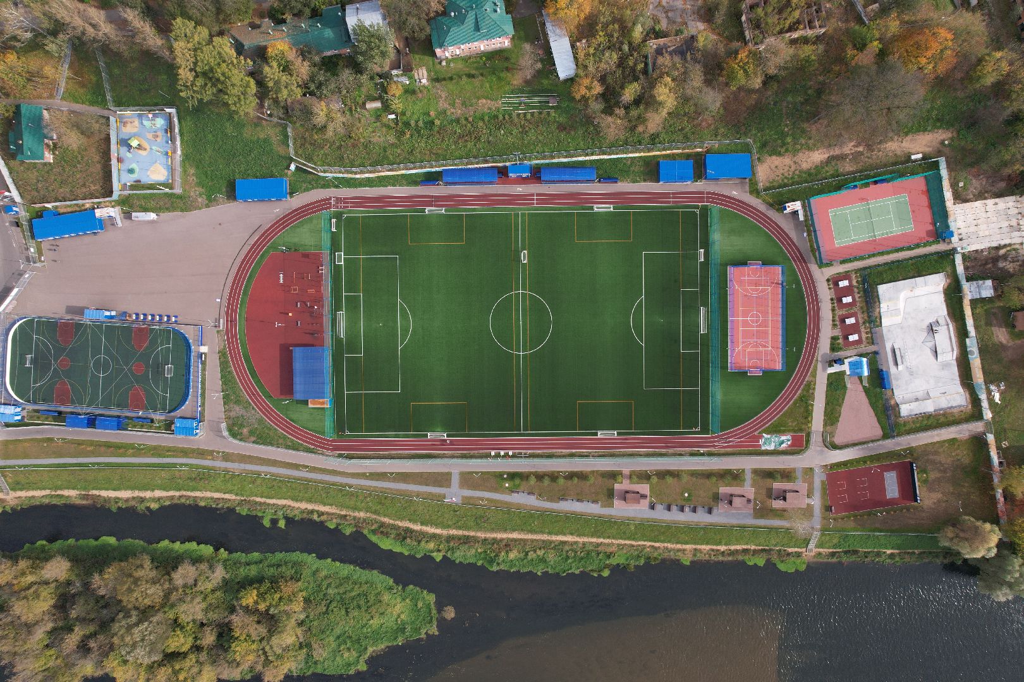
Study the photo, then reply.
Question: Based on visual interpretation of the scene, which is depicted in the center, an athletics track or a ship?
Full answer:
It is an athletics track that can be seen in the center.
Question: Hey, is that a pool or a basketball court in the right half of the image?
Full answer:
There is a basketball court in the right half of the image.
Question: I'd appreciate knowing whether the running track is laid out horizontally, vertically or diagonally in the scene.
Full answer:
From this overhead view, the running track appears to run horizontally.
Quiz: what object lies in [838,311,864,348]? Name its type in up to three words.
tennis court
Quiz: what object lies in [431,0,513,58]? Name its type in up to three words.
house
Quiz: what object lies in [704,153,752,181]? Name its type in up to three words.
shed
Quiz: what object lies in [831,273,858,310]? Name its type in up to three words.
tennis court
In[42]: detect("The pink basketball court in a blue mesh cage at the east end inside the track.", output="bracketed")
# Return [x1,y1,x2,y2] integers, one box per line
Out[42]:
[729,262,782,375]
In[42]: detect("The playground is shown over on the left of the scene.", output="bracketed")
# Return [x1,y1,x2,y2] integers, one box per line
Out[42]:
[117,113,171,183]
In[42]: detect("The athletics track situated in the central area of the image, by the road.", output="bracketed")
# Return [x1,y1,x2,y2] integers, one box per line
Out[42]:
[225,191,821,451]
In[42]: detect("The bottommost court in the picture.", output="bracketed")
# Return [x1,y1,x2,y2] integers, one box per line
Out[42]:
[826,460,923,516]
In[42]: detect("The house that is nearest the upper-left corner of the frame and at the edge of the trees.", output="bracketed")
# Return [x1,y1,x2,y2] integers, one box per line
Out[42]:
[9,103,61,163]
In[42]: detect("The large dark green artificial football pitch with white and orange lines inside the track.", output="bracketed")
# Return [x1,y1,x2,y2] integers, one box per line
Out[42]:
[239,204,807,439]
